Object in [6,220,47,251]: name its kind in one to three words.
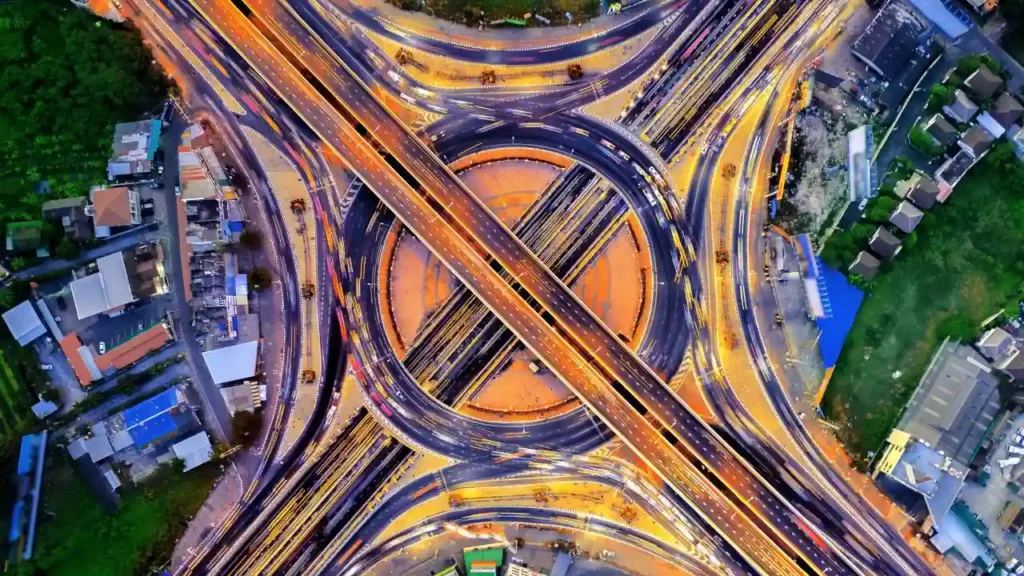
house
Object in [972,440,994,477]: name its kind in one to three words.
shed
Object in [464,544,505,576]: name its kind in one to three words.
building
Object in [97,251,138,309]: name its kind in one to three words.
building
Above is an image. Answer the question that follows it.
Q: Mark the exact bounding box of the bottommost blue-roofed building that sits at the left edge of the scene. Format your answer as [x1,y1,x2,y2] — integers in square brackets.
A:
[9,497,30,541]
